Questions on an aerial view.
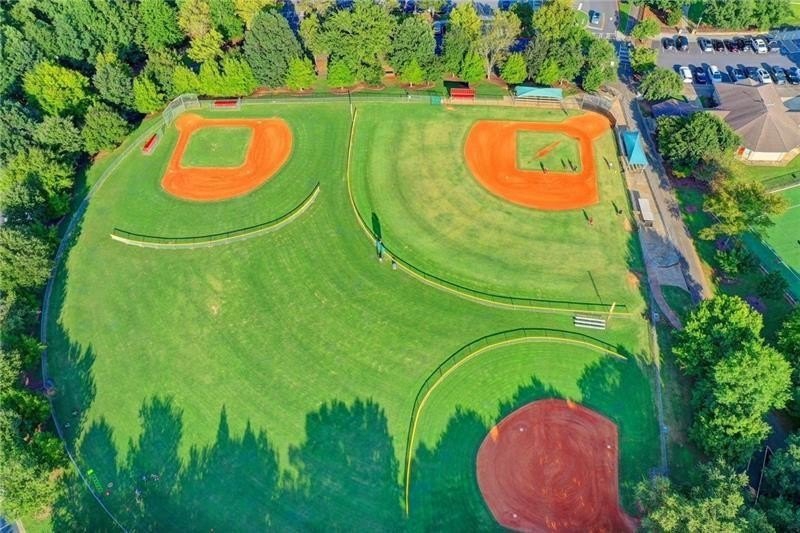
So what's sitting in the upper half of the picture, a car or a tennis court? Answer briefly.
car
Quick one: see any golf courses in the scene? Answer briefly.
No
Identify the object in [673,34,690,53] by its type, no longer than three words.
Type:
car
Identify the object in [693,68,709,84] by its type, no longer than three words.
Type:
car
